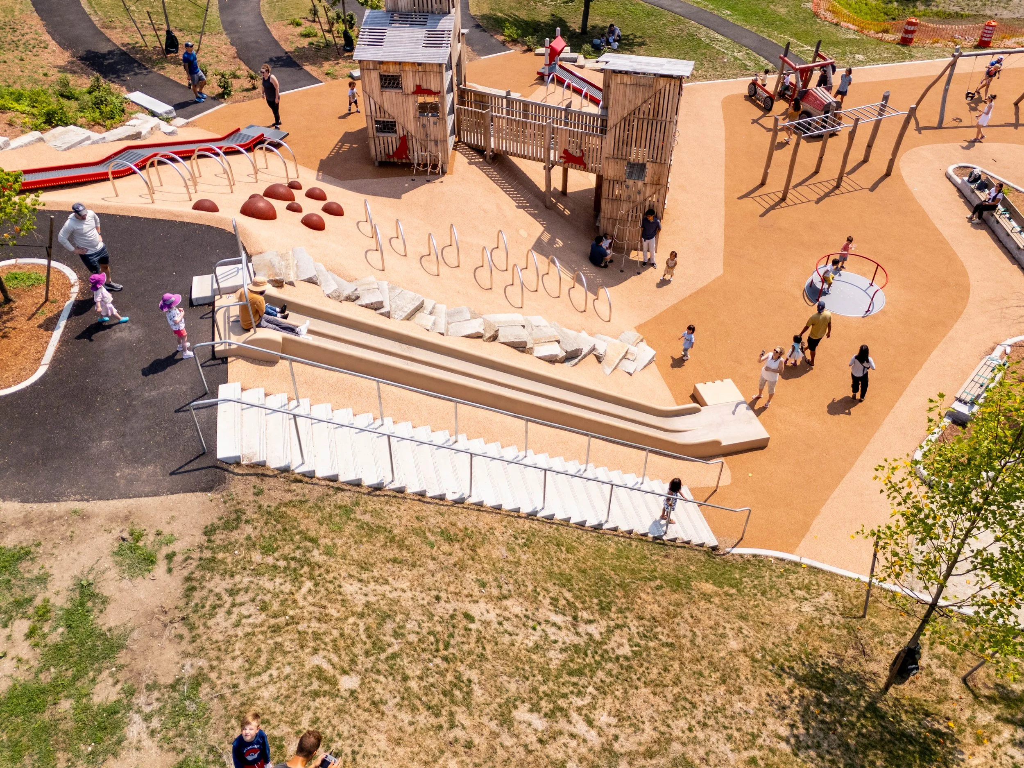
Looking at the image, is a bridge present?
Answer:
Yes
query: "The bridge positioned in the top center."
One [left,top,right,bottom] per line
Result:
[453,86,608,212]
